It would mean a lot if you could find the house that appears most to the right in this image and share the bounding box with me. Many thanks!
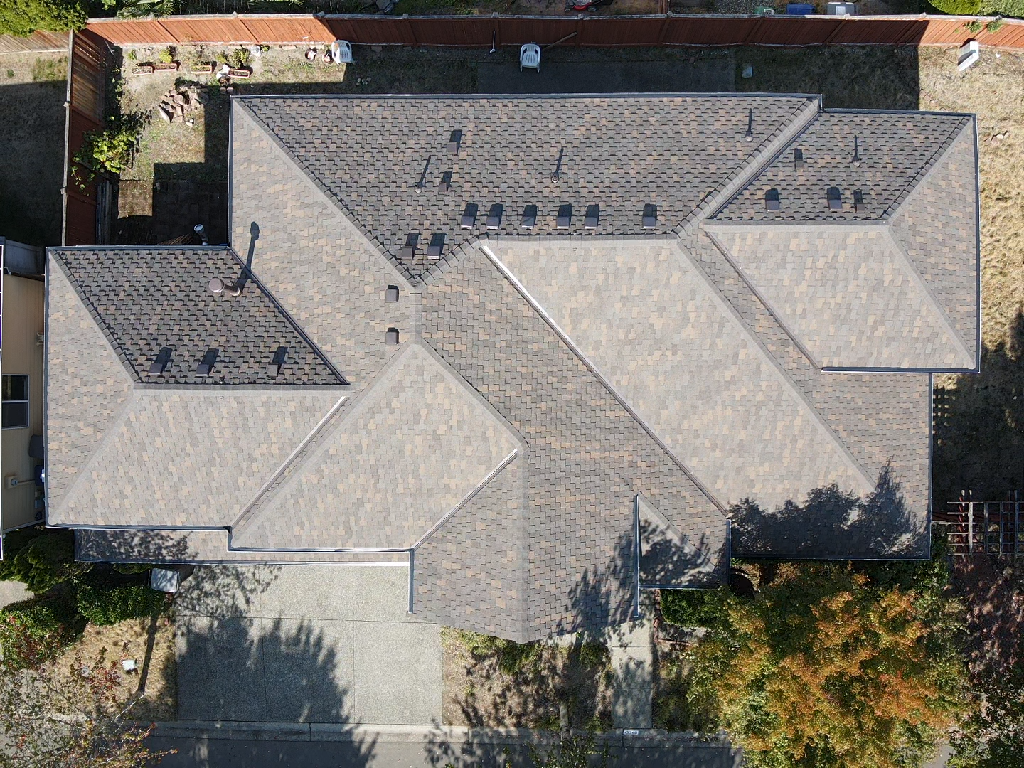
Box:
[42,94,980,646]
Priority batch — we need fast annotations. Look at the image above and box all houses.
[0,246,44,564]
[42,94,980,646]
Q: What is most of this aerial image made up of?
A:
buildings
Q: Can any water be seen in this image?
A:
No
